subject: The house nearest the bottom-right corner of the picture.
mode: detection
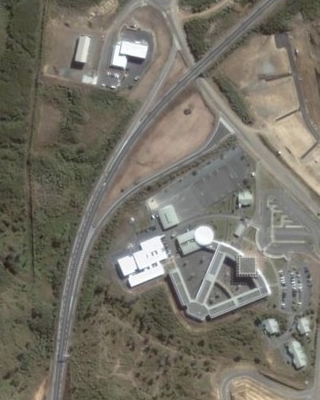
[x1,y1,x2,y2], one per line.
[286,339,309,370]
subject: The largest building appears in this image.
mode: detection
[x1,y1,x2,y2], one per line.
[168,238,272,320]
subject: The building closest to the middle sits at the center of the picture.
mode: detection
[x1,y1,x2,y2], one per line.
[158,205,180,230]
